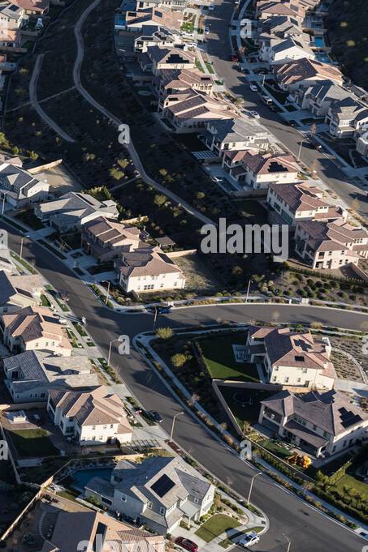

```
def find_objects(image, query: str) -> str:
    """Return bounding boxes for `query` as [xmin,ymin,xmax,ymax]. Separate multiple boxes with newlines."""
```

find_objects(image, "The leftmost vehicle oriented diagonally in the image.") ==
[147,411,164,423]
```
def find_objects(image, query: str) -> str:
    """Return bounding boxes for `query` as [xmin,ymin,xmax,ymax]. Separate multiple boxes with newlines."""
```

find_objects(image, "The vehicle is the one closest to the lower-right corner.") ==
[239,531,260,547]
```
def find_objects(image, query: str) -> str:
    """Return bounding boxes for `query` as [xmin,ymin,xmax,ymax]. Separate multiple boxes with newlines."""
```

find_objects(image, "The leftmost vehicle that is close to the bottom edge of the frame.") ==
[175,539,197,552]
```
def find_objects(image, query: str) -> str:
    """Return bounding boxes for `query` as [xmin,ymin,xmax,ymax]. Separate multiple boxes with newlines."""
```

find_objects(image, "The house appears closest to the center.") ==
[112,251,188,294]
